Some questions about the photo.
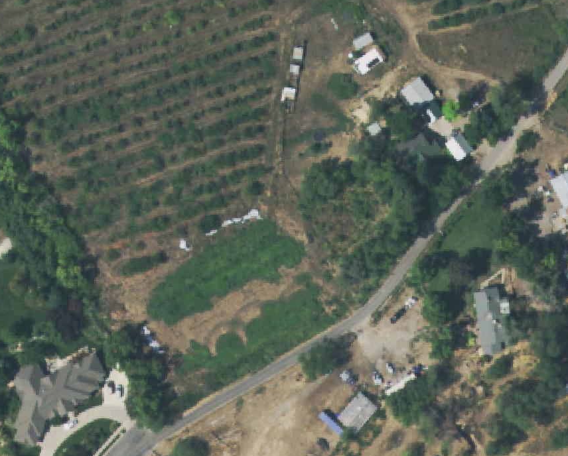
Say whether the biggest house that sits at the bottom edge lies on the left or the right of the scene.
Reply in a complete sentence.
It is on the left.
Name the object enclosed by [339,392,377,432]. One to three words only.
barn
